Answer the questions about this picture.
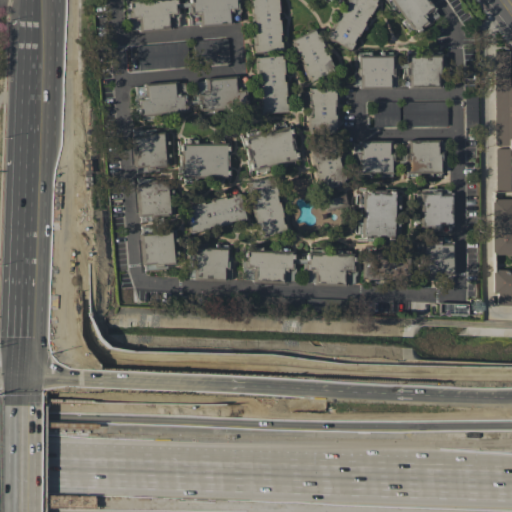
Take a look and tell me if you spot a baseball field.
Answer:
No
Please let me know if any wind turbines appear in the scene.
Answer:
No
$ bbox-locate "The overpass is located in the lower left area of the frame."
[0,391,48,512]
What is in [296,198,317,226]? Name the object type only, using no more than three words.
swimming pool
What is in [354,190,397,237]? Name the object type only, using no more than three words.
building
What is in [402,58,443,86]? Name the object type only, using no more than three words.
building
